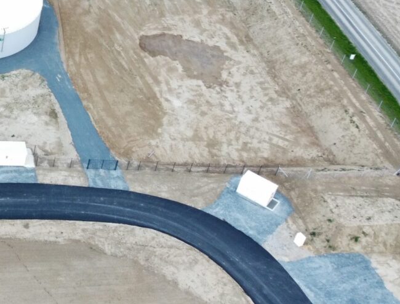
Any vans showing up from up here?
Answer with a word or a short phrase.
No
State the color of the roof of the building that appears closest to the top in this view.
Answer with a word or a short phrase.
white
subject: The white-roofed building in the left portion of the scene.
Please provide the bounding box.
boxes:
[0,142,31,165]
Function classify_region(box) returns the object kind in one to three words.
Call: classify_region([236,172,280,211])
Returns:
building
